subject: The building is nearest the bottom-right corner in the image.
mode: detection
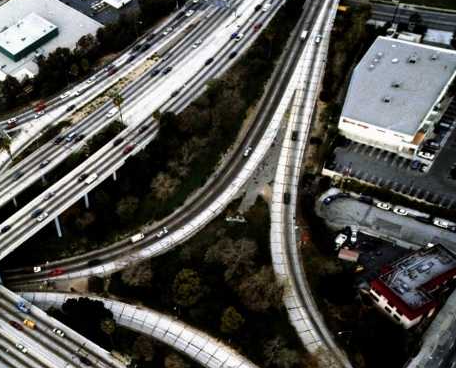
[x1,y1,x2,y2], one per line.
[367,250,455,318]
